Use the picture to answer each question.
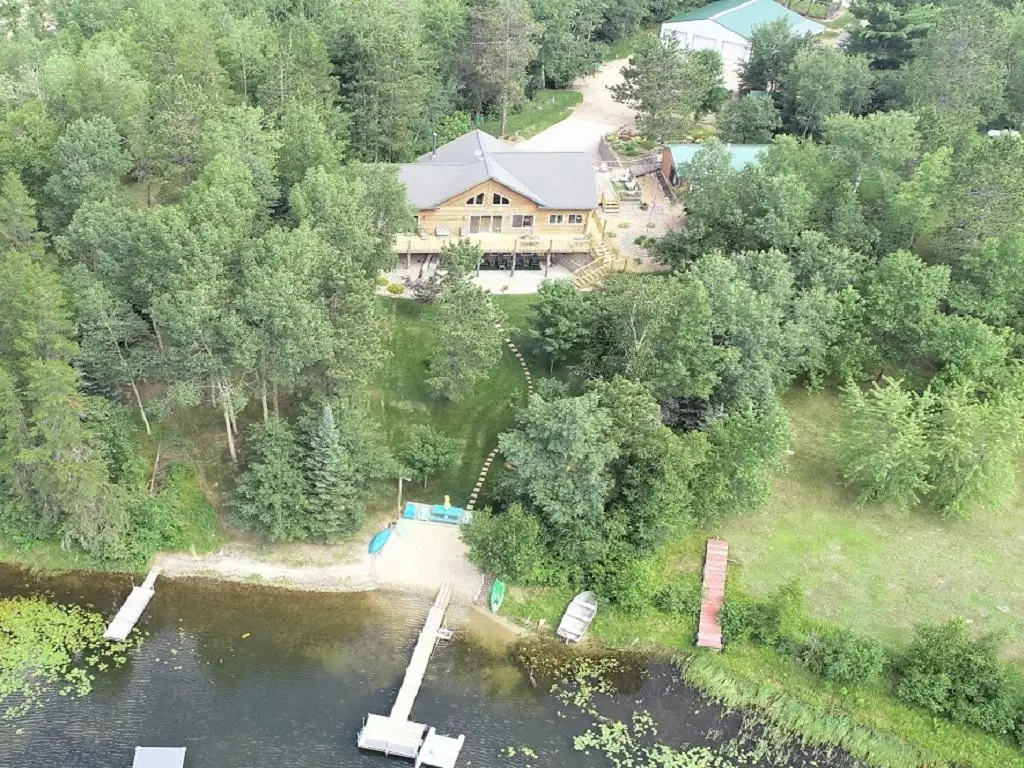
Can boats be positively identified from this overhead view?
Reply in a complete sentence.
Yes, looking at the shot, I can spot a boat.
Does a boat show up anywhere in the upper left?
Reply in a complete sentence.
No, I can find no boat in the upper left.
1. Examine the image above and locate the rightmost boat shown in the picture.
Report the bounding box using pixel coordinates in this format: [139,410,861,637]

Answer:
[559,585,596,640]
